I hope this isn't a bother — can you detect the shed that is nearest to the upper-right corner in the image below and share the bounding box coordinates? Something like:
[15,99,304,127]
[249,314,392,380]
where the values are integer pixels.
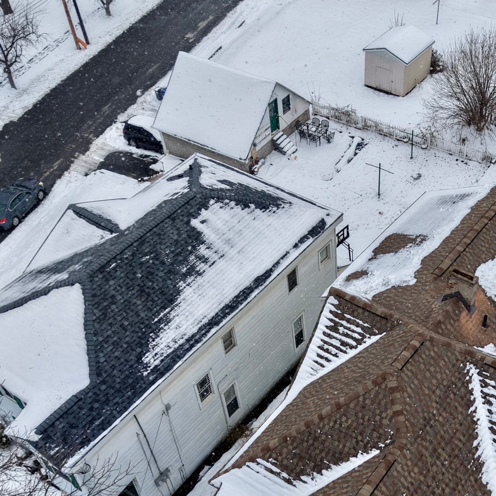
[362,24,433,95]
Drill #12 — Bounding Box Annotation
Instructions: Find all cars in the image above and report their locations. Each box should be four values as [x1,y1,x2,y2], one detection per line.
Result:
[125,112,184,156]
[0,174,46,229]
